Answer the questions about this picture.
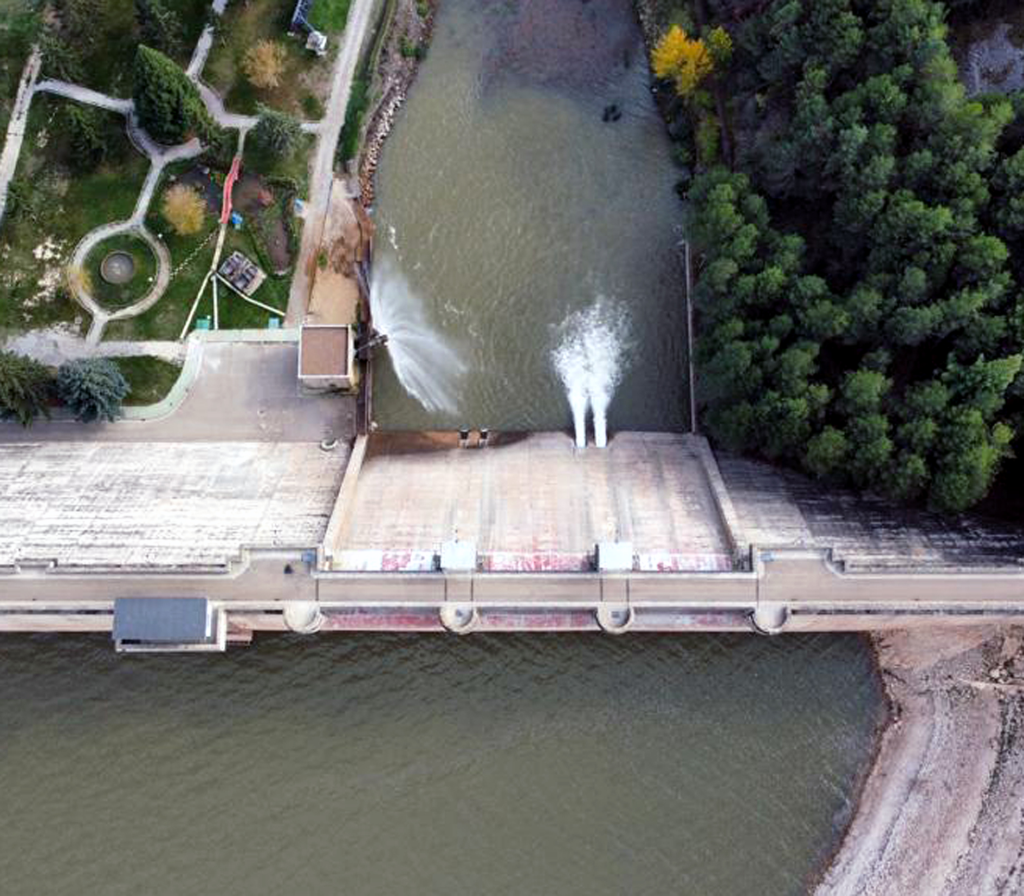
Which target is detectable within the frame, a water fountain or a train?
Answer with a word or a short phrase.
water fountain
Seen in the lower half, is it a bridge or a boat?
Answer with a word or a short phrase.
bridge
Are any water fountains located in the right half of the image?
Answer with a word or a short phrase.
No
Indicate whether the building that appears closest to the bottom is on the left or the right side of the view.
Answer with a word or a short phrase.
left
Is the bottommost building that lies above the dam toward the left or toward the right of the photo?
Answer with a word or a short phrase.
left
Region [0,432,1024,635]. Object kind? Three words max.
dam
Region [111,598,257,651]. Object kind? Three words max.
building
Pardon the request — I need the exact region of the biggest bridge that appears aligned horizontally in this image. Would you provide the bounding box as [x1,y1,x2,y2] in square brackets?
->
[314,567,761,607]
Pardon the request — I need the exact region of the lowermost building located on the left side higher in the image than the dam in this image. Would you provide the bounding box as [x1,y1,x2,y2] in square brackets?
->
[298,326,359,394]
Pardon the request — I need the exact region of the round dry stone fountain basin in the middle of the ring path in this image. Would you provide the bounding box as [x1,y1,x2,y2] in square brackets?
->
[100,250,135,283]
